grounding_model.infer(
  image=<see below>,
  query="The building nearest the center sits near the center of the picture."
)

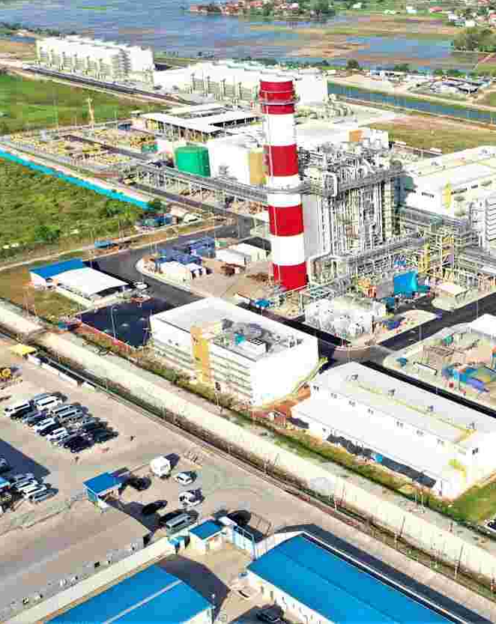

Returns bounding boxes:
[153,296,319,409]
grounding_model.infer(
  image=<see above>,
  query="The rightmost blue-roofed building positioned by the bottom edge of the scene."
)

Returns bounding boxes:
[240,533,462,624]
